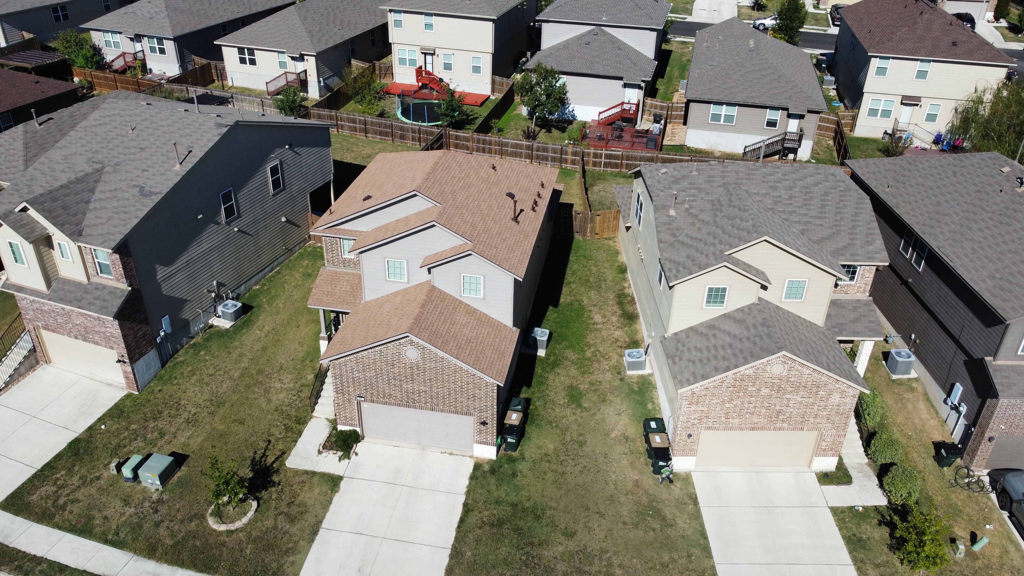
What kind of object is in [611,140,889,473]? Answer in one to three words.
house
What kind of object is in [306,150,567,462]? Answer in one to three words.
house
